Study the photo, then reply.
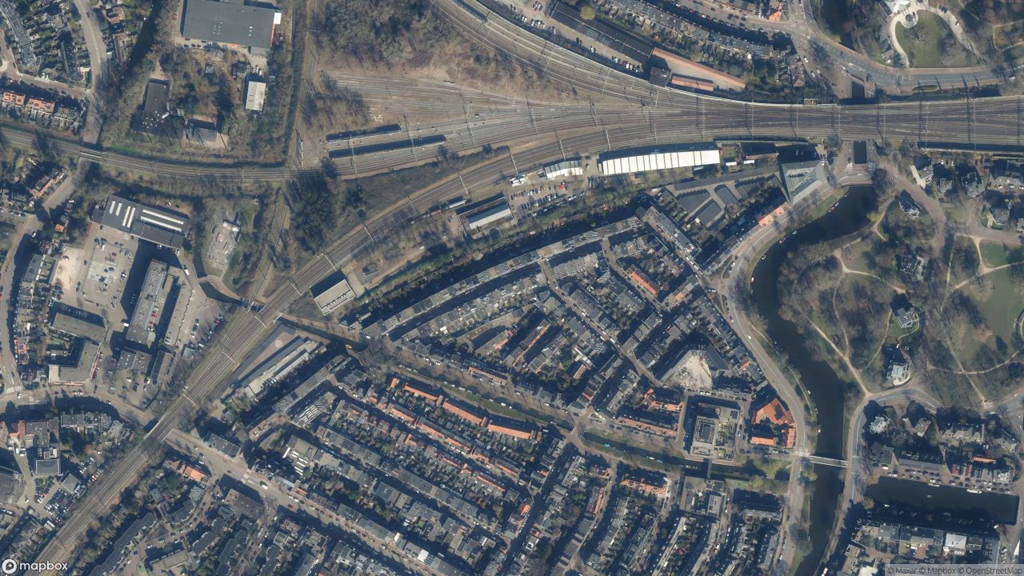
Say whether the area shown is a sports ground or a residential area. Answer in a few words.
residential area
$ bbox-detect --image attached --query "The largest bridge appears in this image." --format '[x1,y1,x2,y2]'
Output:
[126,405,199,455]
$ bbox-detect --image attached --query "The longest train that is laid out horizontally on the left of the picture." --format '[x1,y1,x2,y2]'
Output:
[333,139,443,158]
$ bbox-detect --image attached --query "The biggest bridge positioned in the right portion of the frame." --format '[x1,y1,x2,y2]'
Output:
[831,103,882,143]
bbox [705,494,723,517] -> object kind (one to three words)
building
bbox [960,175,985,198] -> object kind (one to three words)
house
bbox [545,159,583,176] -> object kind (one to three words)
shed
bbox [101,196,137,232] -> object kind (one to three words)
building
